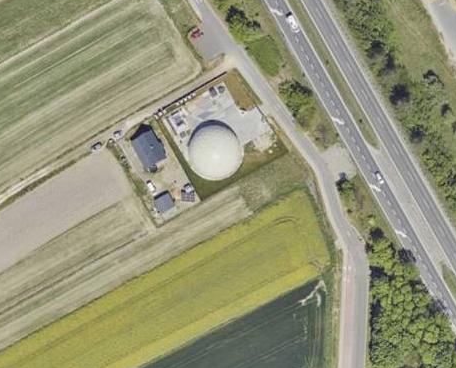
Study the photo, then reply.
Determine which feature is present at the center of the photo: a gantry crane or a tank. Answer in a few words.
tank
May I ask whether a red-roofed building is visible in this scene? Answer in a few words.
No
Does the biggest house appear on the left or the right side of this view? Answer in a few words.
left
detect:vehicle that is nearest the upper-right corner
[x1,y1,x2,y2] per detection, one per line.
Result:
[286,13,300,31]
